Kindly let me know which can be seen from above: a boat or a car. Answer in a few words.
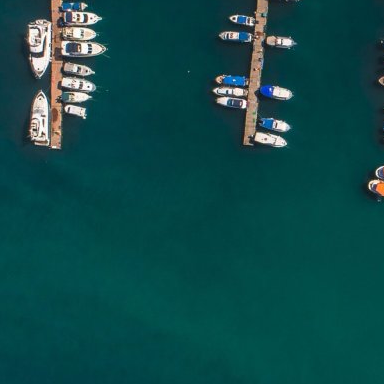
boat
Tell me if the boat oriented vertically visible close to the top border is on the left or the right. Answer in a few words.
left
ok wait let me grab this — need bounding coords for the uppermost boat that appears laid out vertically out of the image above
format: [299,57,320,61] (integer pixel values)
[28,17,53,79]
